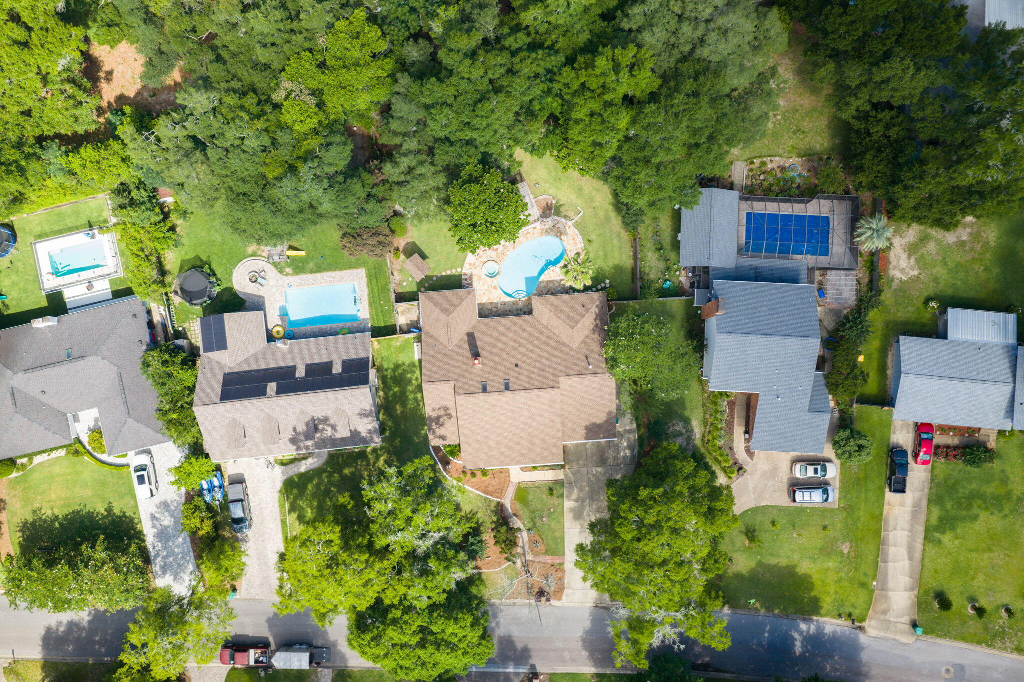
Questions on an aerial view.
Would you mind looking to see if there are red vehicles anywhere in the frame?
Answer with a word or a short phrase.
Yes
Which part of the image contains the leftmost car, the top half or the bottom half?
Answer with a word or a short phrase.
bottom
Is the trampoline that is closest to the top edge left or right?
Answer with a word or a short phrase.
left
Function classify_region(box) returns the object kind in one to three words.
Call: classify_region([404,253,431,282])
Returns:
shed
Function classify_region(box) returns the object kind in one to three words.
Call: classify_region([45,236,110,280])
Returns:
swimming pool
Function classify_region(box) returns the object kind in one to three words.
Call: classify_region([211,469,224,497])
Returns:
boat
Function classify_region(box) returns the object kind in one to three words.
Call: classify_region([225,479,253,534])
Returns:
truck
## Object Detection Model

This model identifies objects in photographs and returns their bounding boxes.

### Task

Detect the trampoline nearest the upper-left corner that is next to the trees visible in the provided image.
[0,223,22,256]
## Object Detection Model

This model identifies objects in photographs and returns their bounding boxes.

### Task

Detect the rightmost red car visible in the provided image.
[911,422,937,466]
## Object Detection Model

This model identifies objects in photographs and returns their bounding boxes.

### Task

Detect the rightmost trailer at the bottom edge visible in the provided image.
[272,642,331,671]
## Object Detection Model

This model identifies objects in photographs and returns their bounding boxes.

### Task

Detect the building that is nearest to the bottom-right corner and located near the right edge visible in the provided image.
[882,308,1024,432]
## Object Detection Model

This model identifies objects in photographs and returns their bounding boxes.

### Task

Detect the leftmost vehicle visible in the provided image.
[132,452,160,501]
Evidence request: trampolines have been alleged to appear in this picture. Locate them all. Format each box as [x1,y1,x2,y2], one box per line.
[172,265,218,307]
[0,223,22,256]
